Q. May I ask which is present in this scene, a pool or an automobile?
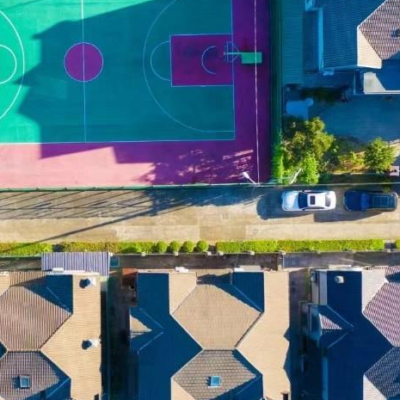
automobile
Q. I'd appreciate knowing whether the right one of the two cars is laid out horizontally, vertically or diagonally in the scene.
horizontally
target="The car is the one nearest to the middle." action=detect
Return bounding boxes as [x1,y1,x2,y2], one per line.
[278,188,335,213]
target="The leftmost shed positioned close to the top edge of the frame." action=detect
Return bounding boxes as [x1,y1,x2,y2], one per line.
[276,0,310,86]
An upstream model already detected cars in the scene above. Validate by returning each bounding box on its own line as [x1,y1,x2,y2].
[278,188,335,213]
[341,187,397,213]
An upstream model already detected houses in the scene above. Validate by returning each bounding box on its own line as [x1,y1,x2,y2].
[298,267,400,400]
[301,0,400,94]
[127,268,296,400]
[0,270,109,400]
